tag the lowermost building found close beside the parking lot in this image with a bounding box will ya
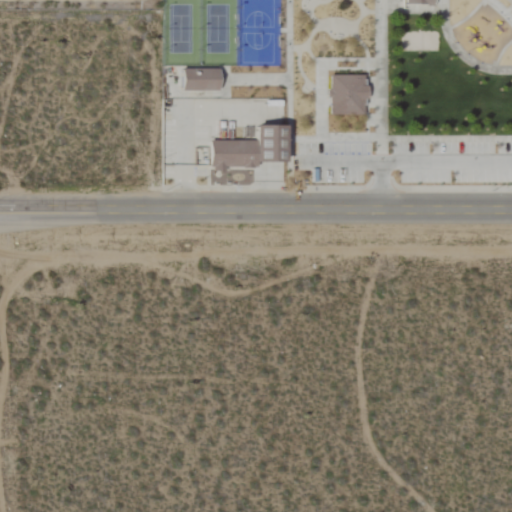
[212,126,291,171]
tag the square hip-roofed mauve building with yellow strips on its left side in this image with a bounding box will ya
[329,74,372,114]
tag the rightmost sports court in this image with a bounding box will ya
[402,29,440,52]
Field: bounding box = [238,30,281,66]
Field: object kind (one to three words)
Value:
basketball court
